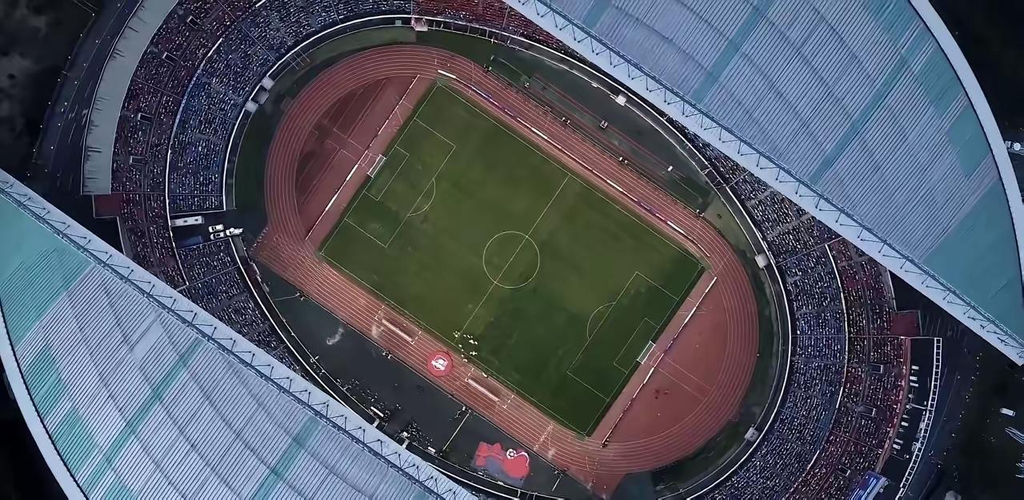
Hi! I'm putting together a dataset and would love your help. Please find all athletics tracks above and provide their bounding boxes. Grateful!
[249,43,762,500]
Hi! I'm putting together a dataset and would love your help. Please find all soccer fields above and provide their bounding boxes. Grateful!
[312,75,713,445]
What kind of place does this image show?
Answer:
sports ground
